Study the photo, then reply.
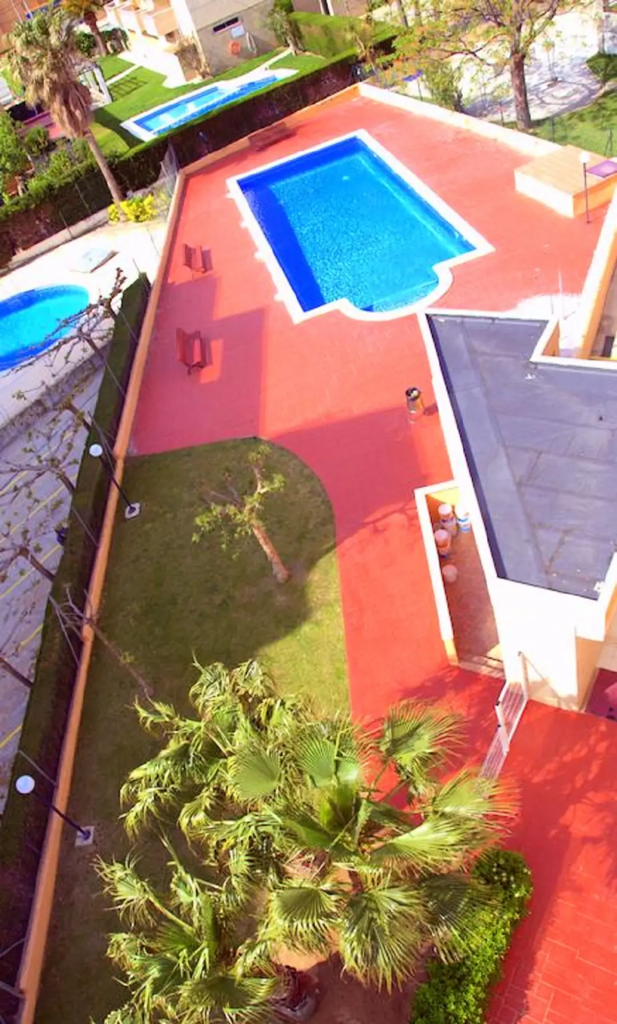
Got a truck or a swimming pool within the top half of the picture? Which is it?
swimming pool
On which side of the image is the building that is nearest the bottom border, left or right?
right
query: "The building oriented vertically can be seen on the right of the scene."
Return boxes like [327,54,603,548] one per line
[417,312,617,708]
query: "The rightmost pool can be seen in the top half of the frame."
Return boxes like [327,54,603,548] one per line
[227,130,494,323]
